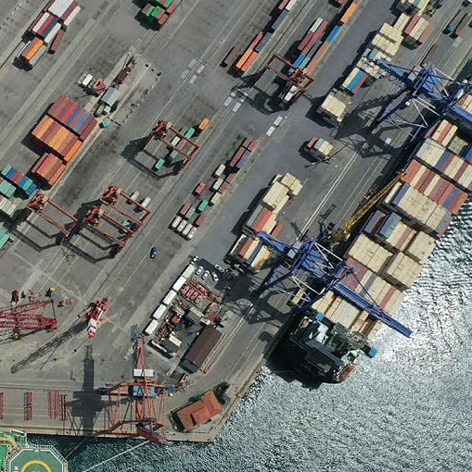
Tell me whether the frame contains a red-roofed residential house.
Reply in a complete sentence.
Yes, a red-roofed residential house can be made out from above.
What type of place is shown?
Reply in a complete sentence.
It's a port.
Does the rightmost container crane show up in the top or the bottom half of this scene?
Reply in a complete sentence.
The top half of the photo is where the rightmost container crane is.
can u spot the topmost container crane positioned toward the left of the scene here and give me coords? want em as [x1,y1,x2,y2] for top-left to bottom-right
[137,115,203,178]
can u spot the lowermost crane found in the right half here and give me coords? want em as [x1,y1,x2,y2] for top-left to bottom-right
[240,224,410,347]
